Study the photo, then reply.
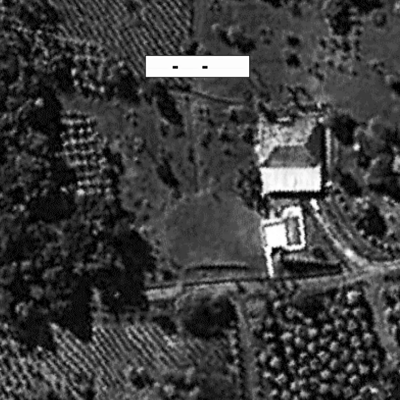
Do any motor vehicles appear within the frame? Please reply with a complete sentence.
No, no motor vehicle is visible in the view.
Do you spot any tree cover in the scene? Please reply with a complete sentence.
Yes, some tree cover is visible.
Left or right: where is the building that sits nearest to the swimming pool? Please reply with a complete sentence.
The building that sits nearest to the swimming pool appears in the right half of the scene.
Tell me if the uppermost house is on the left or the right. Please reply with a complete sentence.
The uppermost house appears in the right half of the scene.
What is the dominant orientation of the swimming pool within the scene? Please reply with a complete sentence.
The swimming pool is laid out vertically.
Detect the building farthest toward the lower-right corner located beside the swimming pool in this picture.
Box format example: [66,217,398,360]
[266,224,286,247]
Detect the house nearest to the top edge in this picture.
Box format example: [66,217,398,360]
[259,118,320,167]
